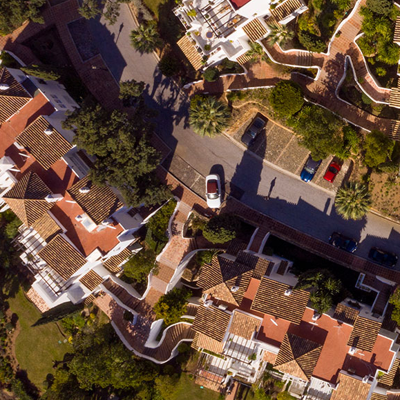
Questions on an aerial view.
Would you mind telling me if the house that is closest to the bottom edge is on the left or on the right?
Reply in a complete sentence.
It is on the right.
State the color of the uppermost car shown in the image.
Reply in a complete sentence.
In this view, the uppermost car is black.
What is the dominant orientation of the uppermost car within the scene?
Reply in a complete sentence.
In this picture, the uppermost car lies diagonally.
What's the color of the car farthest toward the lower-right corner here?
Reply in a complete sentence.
The car farthest toward the lower-right corner looks black in the image.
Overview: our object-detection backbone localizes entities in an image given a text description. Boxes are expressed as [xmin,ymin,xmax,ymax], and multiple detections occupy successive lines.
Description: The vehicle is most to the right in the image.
[365,244,400,267]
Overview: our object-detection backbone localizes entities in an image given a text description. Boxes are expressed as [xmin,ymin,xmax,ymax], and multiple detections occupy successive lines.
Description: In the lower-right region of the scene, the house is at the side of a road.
[190,239,400,400]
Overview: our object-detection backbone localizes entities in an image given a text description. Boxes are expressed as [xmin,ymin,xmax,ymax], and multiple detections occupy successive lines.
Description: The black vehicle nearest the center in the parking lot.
[240,113,268,147]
